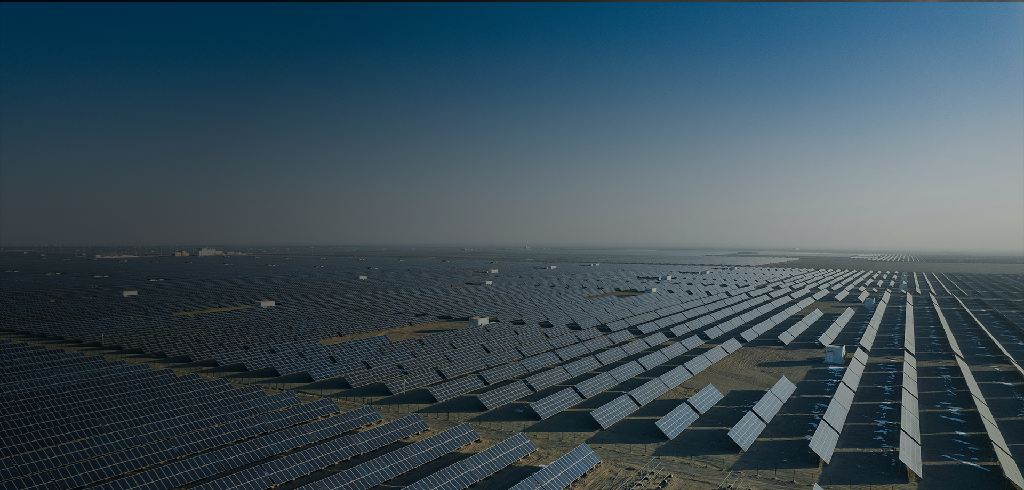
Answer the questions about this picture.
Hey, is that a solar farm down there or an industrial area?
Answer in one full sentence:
This looks like a solar farm.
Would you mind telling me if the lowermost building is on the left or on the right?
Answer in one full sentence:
It is on the right.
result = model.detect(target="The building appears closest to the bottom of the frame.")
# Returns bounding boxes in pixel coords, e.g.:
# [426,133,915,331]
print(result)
[823,343,847,365]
